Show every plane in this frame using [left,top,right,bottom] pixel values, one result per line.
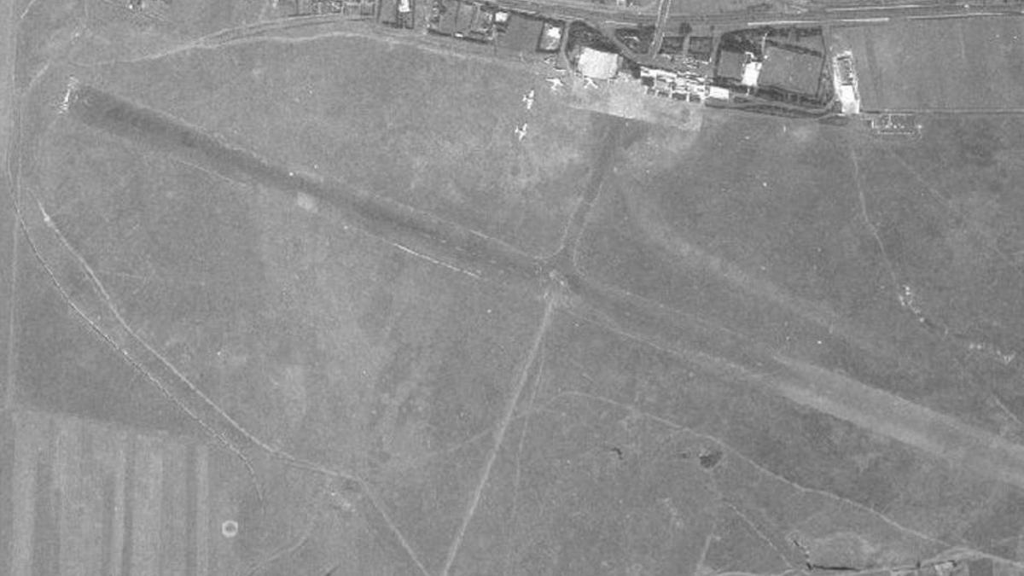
[585,78,596,89]
[515,123,526,140]
[521,90,533,108]
[547,78,564,90]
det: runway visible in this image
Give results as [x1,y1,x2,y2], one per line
[66,72,1024,495]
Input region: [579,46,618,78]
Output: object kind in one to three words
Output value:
hangar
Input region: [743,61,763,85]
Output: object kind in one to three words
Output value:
house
